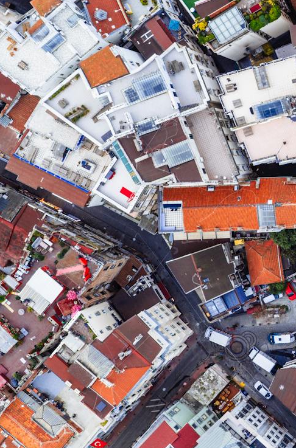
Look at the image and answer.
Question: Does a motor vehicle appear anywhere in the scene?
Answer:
Yes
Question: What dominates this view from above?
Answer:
buildings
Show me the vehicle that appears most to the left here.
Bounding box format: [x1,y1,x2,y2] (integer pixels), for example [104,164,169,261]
[200,327,233,351]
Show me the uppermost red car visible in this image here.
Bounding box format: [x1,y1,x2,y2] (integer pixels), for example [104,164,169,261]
[284,282,296,304]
